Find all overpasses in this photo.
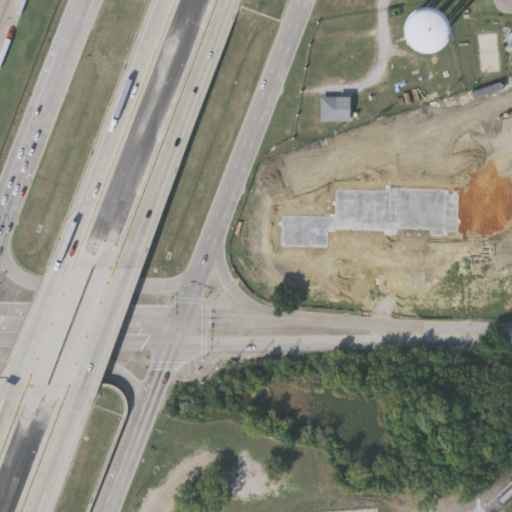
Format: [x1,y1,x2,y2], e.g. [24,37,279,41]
[0,266,144,385]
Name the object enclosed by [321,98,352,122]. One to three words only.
house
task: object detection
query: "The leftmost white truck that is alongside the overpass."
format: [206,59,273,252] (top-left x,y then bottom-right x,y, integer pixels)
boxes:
[54,222,76,272]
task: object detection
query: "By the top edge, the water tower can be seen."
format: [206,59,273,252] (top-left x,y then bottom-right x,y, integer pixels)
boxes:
[405,7,452,54]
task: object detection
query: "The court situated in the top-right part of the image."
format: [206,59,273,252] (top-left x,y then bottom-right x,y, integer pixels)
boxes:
[478,33,500,73]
